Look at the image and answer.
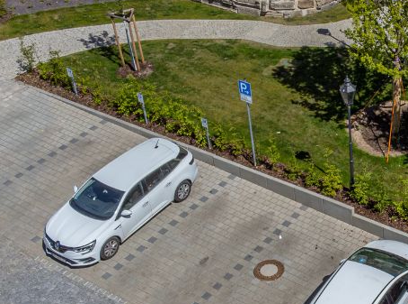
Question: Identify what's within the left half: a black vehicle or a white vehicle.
white vehicle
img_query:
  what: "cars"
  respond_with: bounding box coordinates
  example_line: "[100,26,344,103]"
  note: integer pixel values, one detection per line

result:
[40,142,198,267]
[311,238,408,304]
